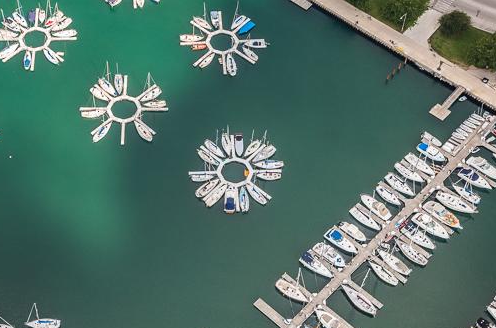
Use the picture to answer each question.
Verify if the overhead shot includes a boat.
Yes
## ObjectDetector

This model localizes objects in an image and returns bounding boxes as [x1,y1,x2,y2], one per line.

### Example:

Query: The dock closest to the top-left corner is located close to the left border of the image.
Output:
[0,8,78,72]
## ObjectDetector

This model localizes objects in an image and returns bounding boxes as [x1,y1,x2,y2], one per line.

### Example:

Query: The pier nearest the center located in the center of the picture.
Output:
[189,135,282,212]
